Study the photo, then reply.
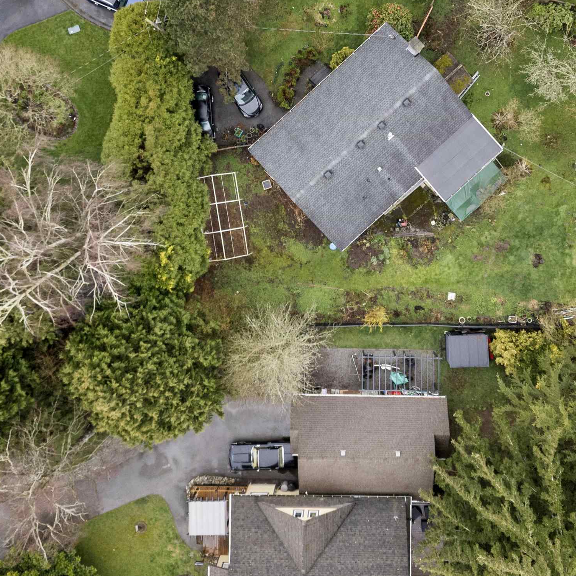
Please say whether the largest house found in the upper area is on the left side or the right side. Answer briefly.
right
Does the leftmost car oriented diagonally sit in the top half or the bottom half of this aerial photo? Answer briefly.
top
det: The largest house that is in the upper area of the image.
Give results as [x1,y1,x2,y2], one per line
[247,21,504,252]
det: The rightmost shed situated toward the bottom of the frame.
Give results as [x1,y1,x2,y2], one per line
[444,331,489,367]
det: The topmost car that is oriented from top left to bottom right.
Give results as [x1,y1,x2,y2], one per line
[210,61,267,118]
